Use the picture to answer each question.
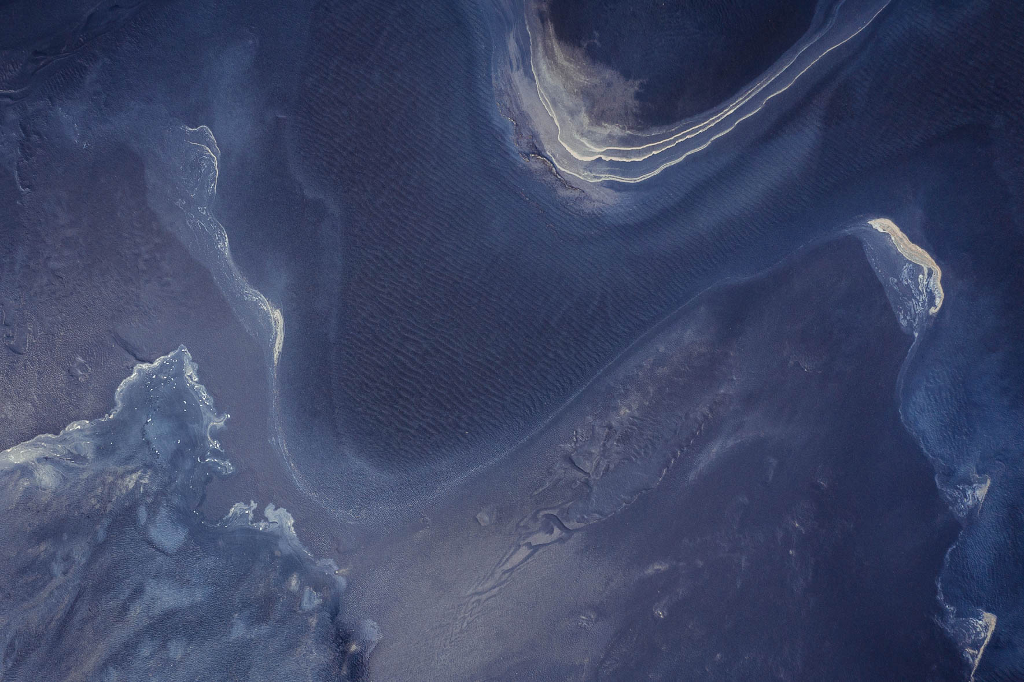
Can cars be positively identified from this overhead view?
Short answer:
No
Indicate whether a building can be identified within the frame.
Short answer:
No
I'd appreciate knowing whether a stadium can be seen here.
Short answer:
No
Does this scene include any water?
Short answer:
Yes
